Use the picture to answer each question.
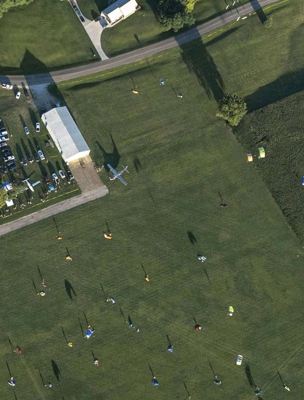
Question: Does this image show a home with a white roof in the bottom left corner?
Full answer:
No, looking in the bottom left corner, there is no home with a white roof.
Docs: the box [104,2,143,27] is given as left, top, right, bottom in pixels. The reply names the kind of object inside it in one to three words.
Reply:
house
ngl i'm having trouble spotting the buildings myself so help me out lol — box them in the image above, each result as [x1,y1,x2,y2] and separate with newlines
[38,108,91,165]
[104,2,143,27]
